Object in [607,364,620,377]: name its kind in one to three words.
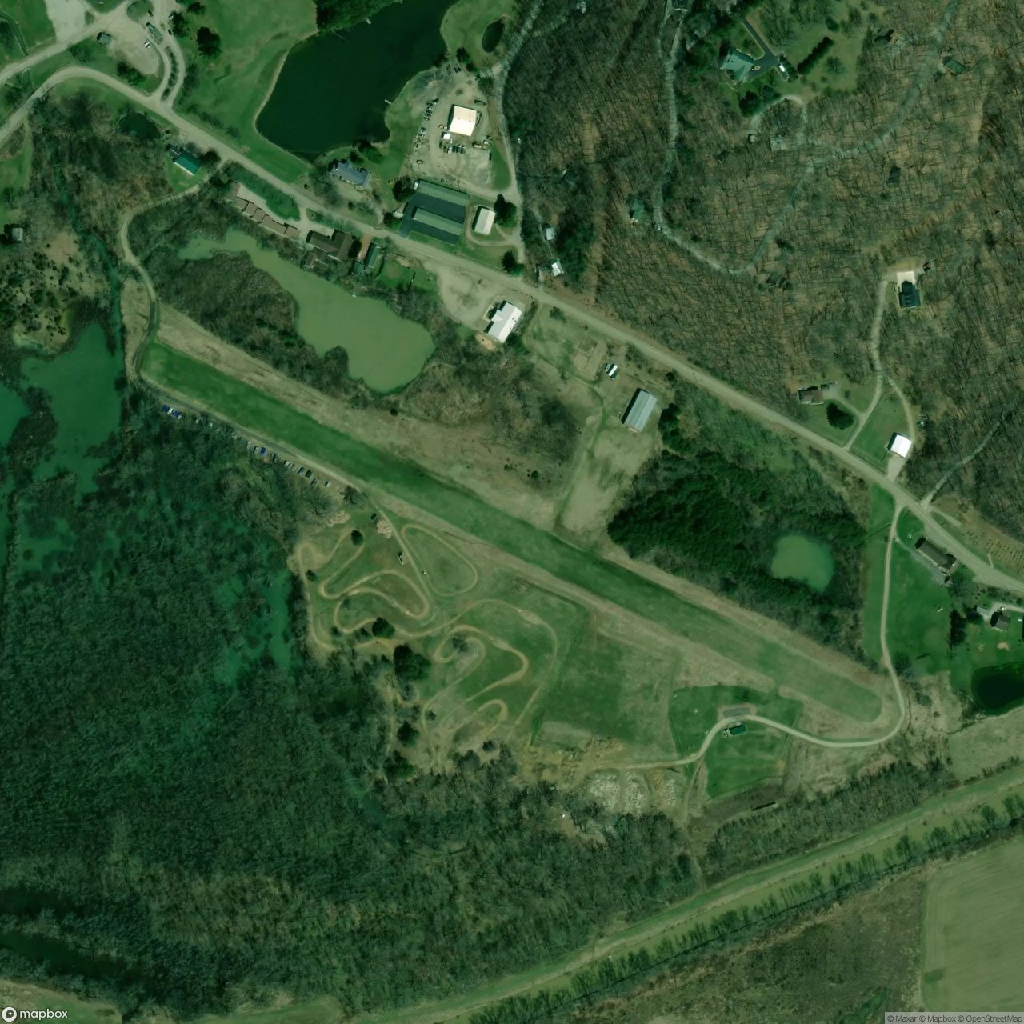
vehicle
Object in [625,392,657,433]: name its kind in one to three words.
barn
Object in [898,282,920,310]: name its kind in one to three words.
house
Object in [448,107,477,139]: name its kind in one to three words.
building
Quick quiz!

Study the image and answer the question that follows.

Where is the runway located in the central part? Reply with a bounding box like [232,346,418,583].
[143,341,882,721]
